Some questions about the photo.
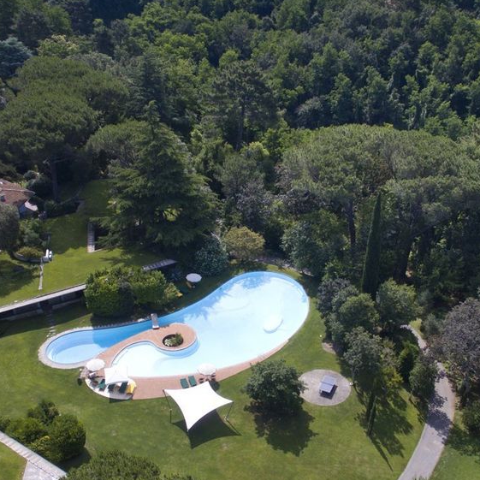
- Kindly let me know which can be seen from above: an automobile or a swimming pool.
swimming pool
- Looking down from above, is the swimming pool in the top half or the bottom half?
bottom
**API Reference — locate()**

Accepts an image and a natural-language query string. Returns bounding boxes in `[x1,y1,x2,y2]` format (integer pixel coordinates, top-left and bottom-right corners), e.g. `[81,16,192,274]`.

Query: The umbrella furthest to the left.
[82,357,108,384]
